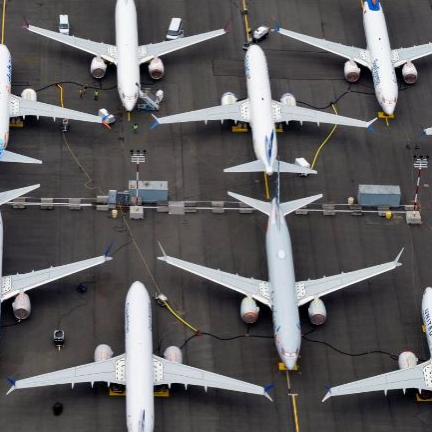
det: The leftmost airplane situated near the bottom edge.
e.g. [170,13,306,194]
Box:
[4,280,276,432]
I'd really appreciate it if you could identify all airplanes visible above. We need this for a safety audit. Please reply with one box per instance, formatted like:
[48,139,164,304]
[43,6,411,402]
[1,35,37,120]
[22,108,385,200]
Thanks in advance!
[4,280,276,432]
[151,43,380,179]
[157,157,406,370]
[20,0,234,113]
[322,285,432,406]
[272,0,432,114]
[0,185,115,321]
[0,44,113,165]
